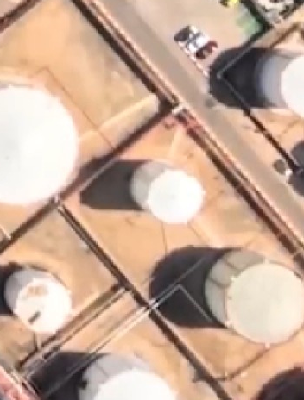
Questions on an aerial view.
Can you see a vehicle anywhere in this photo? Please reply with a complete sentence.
Yes, I can see a vehicle in this picture.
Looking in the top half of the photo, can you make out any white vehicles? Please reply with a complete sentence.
Yes, a white vehicle can be seen in the top half of the photo.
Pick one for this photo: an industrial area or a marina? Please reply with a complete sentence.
This looks like an industrial area.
